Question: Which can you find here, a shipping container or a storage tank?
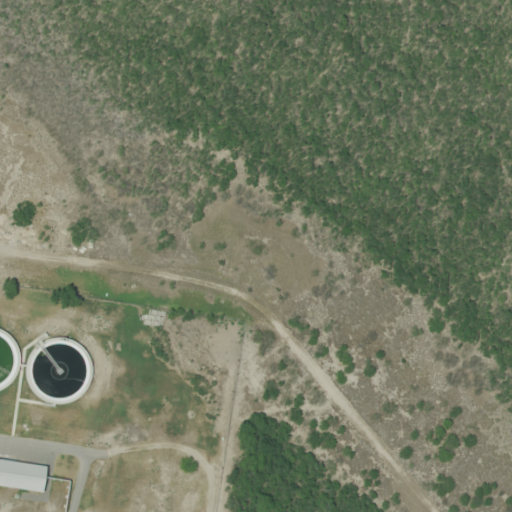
storage tank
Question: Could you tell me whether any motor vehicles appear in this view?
No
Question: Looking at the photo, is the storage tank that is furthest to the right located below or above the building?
above it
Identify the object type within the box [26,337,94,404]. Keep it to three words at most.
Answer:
storage tank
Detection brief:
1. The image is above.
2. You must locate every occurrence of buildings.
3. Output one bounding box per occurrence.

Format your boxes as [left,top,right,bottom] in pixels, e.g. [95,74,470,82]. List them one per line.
[0,458,48,493]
